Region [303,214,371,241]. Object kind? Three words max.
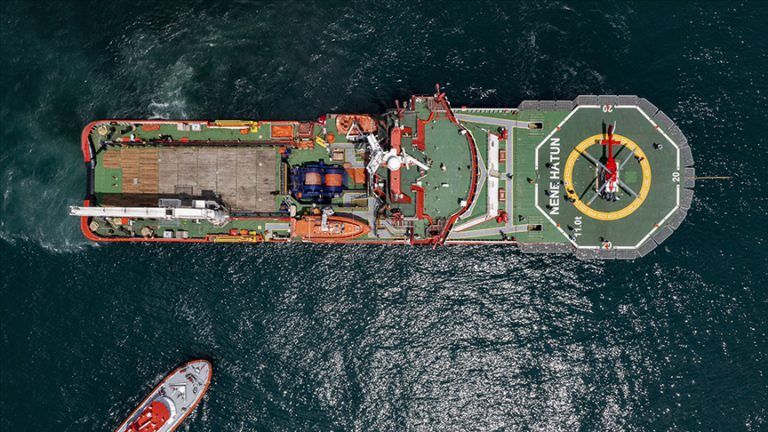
boat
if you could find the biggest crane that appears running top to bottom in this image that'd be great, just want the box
[367,136,385,201]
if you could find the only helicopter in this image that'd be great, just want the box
[584,118,638,206]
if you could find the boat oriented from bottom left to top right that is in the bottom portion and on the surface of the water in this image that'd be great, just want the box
[118,360,212,432]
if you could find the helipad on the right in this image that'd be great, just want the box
[518,95,695,258]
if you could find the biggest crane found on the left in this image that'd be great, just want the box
[69,198,232,225]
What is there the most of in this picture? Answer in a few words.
water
